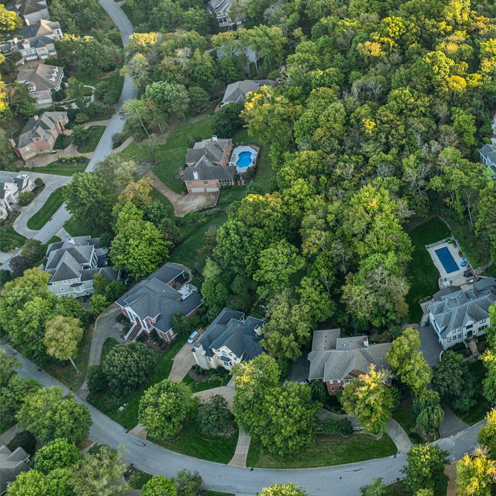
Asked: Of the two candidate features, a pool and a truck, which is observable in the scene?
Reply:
pool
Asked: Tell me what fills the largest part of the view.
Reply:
trees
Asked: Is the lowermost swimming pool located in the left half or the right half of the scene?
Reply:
right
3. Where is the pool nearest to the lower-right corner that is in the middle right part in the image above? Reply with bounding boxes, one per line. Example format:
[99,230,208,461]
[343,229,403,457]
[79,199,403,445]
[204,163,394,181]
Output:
[433,245,462,275]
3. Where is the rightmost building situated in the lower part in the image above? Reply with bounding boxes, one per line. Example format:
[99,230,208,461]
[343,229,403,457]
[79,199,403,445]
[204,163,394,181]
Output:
[425,276,496,349]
